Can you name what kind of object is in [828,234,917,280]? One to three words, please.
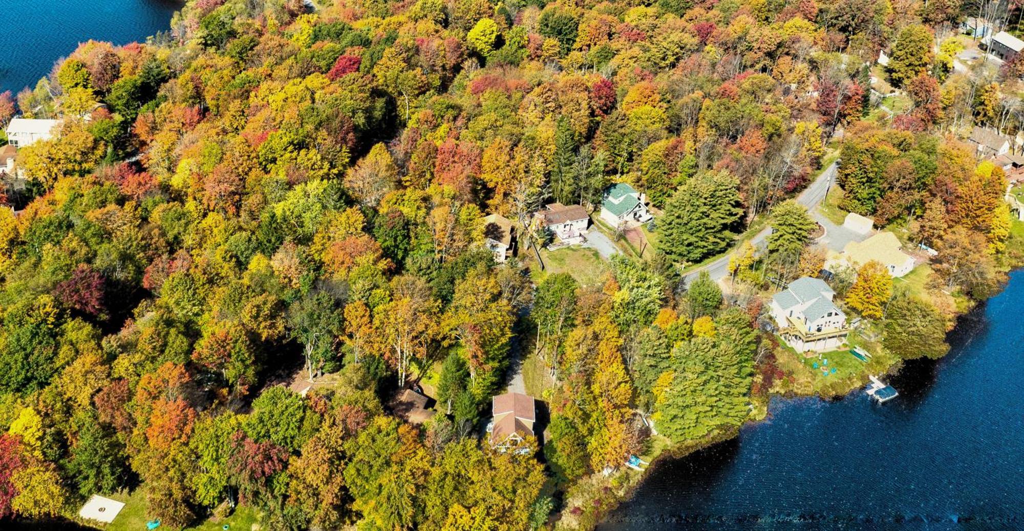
house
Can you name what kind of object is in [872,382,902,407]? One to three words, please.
boat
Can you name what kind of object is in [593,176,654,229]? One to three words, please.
building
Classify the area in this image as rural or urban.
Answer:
rural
